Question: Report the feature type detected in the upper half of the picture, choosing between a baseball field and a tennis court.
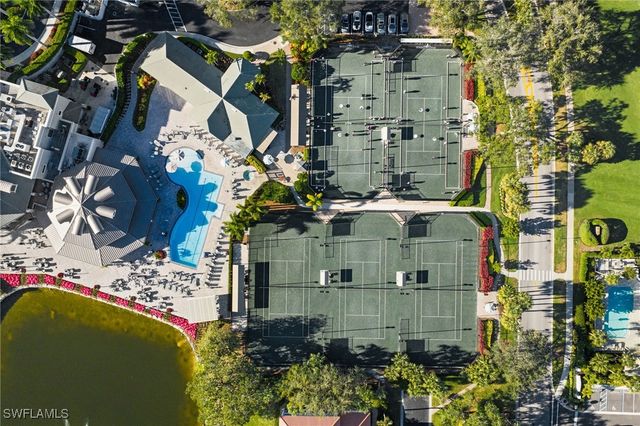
tennis court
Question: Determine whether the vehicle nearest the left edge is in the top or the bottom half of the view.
top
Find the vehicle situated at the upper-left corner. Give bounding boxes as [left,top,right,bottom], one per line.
[67,34,98,55]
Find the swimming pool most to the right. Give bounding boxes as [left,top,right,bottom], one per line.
[605,285,635,339]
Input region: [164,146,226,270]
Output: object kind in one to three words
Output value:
swimming pool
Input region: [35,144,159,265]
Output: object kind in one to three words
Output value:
building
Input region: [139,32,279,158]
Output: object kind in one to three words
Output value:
building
